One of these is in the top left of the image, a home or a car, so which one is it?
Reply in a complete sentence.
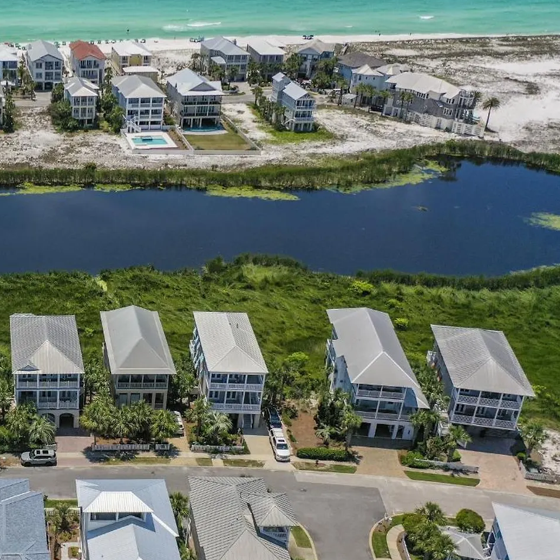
Visible in the top left of the image is a home.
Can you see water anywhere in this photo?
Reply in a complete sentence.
Yes, water shows up in the scene.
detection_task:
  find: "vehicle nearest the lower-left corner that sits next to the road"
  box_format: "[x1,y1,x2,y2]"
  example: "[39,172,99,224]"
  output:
[20,447,58,467]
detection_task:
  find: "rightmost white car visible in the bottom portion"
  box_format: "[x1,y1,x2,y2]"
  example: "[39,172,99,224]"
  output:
[268,427,290,459]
